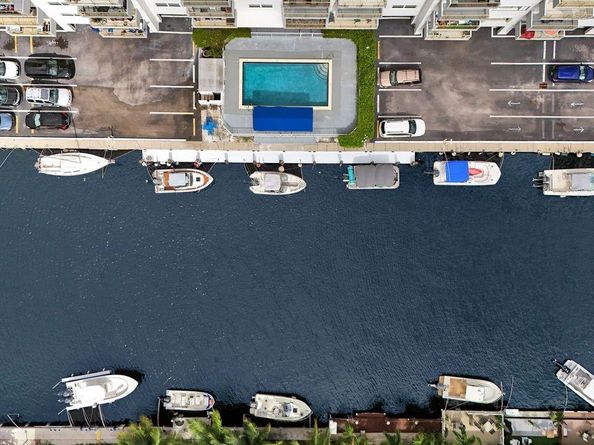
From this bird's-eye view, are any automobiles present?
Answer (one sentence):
Yes, the photo shows an automobile.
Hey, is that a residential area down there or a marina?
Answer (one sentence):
It's a marina.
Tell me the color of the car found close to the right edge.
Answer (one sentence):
From above, the car found close to the right edge appears blue.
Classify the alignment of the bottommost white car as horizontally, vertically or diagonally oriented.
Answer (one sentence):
The bottommost white car runs horizontally in the image.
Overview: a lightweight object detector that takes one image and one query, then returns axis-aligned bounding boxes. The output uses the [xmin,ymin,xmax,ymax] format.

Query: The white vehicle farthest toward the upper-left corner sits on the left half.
[0,58,23,81]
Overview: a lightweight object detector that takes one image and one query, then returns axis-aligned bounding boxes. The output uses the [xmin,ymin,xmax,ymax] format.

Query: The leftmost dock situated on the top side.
[142,151,172,163]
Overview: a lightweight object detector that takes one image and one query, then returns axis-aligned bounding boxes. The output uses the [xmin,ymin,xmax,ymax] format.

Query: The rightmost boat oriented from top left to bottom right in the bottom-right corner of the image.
[552,358,594,406]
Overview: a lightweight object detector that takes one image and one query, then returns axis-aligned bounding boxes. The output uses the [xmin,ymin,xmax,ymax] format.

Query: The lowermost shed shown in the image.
[198,57,224,96]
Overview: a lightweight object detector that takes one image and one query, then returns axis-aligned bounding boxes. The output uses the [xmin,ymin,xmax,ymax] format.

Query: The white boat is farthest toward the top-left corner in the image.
[33,149,115,175]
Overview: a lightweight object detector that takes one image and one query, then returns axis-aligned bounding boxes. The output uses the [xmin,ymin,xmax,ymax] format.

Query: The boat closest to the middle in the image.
[246,170,306,196]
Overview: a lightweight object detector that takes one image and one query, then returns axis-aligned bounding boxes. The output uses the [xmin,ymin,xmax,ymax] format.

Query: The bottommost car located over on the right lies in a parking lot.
[379,117,423,139]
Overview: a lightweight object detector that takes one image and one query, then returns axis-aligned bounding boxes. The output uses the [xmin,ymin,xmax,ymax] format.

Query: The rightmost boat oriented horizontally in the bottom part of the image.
[429,373,504,403]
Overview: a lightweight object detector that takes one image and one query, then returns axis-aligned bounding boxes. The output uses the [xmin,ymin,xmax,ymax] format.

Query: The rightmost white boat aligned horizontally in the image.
[532,169,594,197]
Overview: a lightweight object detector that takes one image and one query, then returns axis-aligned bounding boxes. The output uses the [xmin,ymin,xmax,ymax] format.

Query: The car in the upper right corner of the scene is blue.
[549,64,594,85]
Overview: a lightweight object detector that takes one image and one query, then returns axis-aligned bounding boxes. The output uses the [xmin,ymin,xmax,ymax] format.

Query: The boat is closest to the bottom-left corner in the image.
[53,374,138,409]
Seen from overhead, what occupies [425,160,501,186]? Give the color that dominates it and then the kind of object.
white boat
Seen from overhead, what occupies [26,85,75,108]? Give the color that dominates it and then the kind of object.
white car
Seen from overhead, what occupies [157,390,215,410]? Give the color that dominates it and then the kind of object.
white boat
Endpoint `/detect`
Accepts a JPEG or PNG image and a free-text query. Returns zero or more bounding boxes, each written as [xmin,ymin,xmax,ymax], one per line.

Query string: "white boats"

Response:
[151,167,213,194]
[429,373,504,403]
[33,149,115,175]
[246,170,306,196]
[425,160,501,186]
[157,390,215,410]
[248,393,314,420]
[532,169,594,197]
[552,358,594,406]
[53,374,138,409]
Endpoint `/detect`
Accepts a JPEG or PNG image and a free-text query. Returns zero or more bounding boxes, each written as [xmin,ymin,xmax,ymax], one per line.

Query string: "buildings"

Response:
[198,57,224,96]
[0,0,594,40]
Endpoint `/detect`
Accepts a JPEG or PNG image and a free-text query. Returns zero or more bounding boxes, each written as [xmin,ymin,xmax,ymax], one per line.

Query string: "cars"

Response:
[549,64,594,85]
[26,85,75,108]
[25,55,78,81]
[379,67,420,88]
[28,110,74,132]
[0,114,17,133]
[0,84,26,106]
[379,117,423,139]
[0,58,23,81]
